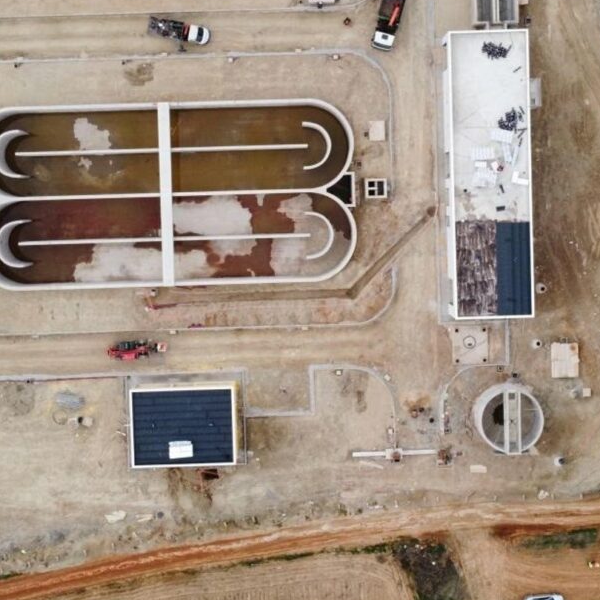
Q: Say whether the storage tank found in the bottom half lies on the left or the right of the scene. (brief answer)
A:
right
